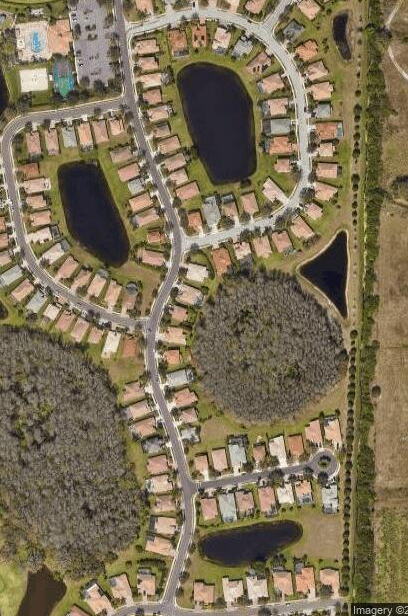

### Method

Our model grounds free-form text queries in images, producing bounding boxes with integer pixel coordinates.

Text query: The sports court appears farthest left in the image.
[20,69,49,93]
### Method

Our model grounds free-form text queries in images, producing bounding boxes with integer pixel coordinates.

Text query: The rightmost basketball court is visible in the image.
[54,61,74,95]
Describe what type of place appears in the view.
residential area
